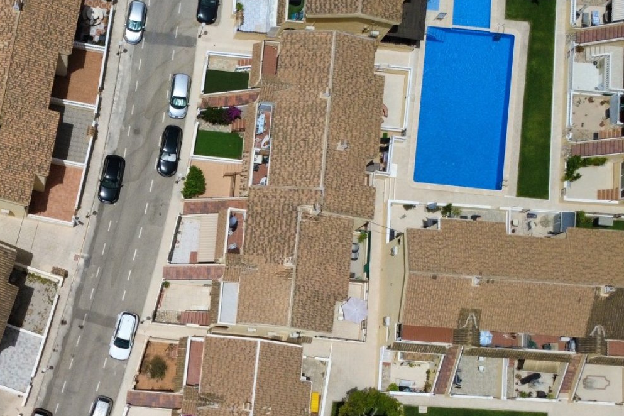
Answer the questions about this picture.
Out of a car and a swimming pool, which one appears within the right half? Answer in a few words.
swimming pool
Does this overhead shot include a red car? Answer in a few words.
No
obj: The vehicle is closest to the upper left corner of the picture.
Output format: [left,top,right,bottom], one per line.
[124,0,148,45]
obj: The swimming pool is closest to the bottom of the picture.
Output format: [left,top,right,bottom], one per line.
[413,27,513,190]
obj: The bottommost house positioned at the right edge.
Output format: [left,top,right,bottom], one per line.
[383,219,624,368]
